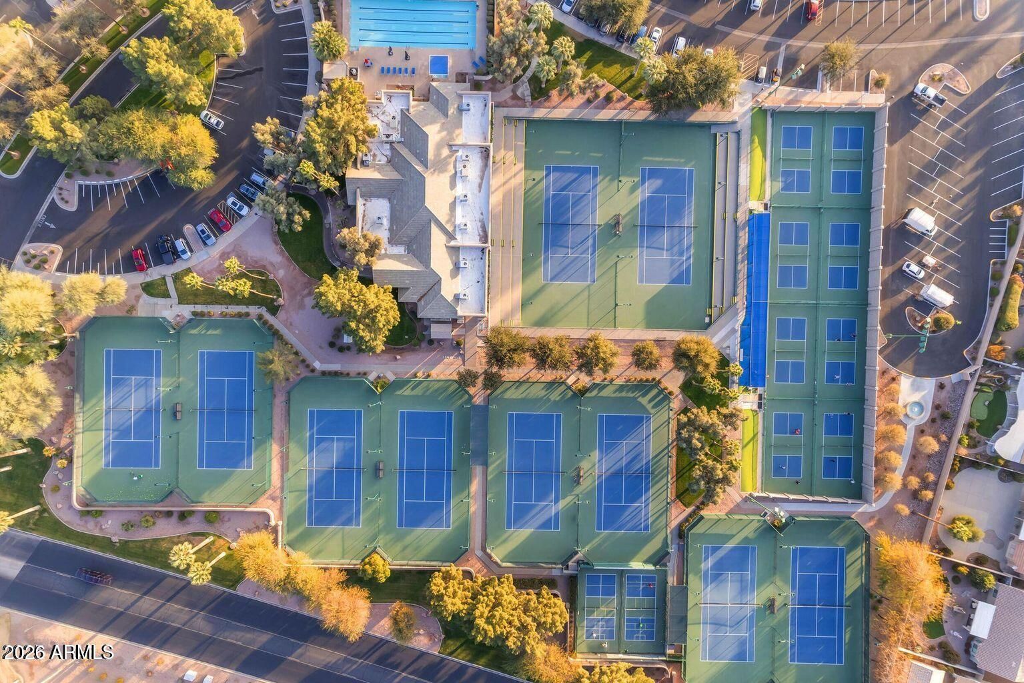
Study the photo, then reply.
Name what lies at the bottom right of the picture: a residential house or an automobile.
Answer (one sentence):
What appears at the bottom right of the picture is a residential house.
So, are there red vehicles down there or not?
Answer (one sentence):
Yes, looking at the shot, I can spot a red vehicle.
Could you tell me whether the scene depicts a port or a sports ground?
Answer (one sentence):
This image shows a sports ground.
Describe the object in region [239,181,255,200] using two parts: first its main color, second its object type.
blue car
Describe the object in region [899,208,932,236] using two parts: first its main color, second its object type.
white truck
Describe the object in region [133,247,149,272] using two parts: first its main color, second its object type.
red car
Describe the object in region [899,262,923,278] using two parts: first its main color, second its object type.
white car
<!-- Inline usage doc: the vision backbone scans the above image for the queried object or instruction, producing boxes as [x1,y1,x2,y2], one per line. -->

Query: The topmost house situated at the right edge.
[980,372,1024,465]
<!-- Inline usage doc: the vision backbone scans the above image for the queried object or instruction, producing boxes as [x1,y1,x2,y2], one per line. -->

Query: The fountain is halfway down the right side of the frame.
[906,400,926,419]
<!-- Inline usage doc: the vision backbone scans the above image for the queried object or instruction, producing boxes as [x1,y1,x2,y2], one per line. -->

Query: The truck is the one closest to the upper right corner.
[912,84,948,108]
